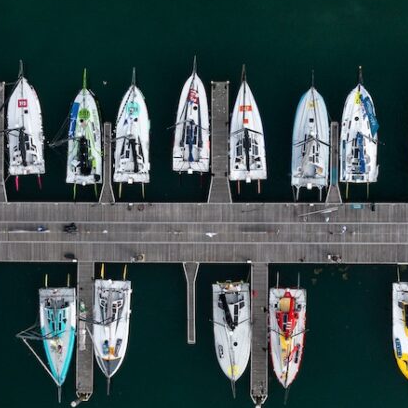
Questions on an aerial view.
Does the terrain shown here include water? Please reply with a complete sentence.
Yes, water can be seen from above here.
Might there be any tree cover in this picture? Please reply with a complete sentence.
No, there is no tree cover in the image.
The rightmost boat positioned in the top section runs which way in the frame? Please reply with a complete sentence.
The rightmost boat positioned in the top section is oriented from top to bottom.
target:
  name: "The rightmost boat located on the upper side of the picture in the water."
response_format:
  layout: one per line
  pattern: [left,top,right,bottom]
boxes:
[338,66,384,197]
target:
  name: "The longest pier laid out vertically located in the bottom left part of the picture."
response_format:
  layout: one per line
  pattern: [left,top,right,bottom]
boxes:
[75,262,96,402]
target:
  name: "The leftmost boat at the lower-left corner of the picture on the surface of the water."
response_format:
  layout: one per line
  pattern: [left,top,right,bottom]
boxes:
[15,274,76,403]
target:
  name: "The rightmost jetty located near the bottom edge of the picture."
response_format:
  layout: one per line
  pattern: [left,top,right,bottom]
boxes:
[249,262,270,405]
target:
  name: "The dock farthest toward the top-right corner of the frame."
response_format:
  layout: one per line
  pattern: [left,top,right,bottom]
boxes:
[326,122,342,202]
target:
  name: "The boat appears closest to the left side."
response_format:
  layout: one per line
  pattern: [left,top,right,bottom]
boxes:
[0,60,45,193]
